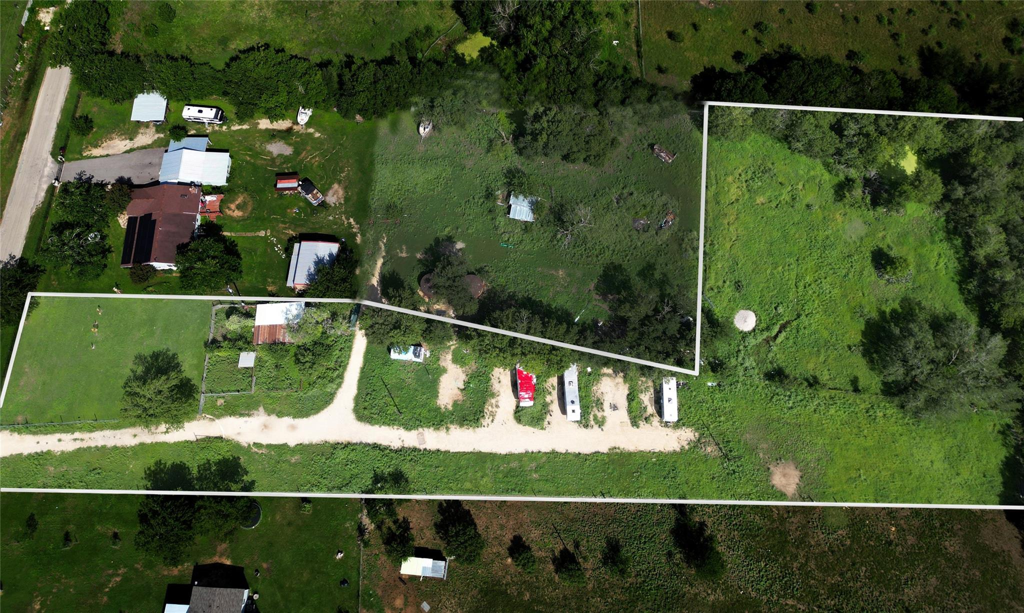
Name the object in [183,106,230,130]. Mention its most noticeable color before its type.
white trailer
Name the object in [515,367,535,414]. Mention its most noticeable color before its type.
red trailer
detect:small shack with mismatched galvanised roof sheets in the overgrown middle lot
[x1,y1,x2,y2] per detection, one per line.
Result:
[507,191,535,227]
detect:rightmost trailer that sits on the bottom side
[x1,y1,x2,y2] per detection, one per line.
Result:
[659,379,678,430]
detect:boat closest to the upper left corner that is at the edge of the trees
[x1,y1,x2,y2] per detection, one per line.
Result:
[298,105,310,125]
